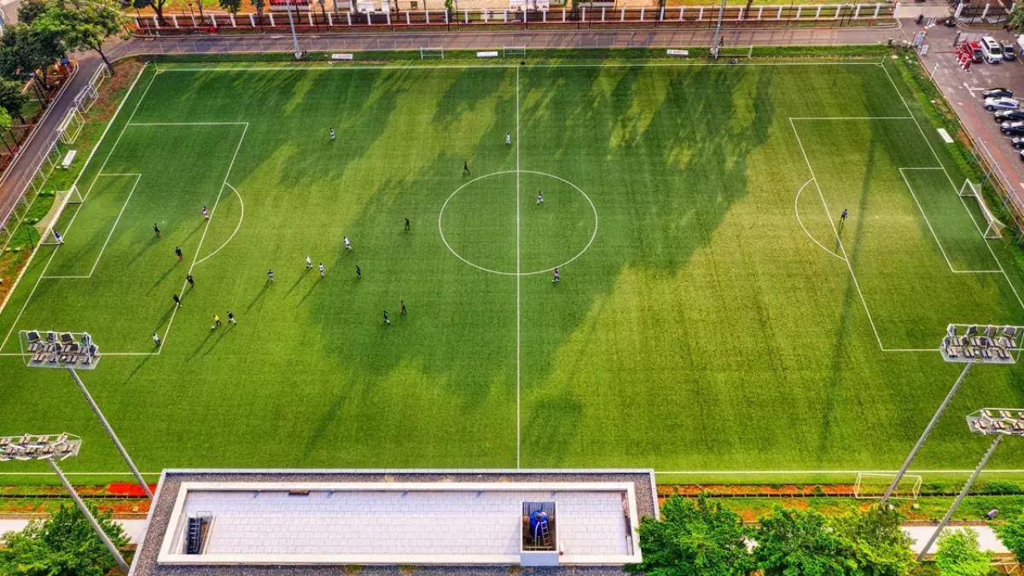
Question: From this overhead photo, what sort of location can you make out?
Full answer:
What you see here is a sports ground.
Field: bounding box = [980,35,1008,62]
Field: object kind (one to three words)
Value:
vehicle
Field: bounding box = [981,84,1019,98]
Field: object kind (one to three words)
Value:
car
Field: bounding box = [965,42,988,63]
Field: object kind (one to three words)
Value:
car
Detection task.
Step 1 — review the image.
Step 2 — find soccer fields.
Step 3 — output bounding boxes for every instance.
[0,57,1024,486]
